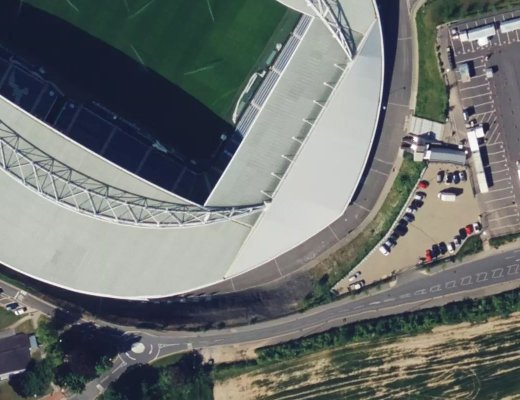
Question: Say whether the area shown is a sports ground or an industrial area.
sports ground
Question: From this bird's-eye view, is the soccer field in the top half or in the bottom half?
top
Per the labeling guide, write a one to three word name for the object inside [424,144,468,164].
building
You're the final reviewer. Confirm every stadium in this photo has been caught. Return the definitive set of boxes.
[0,0,384,299]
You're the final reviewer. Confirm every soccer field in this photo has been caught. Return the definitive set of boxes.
[0,0,303,126]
